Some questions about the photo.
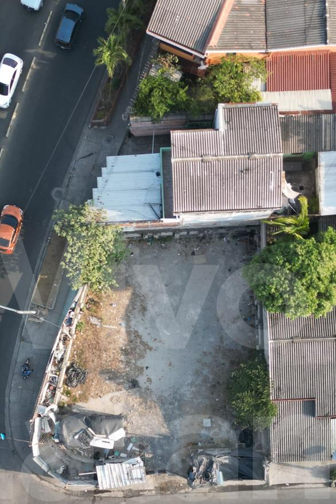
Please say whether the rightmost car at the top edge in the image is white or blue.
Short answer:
blue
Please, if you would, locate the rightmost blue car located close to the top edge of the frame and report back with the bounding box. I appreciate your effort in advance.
[53,2,83,52]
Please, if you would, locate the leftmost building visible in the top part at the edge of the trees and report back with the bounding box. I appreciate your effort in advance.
[87,148,173,232]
